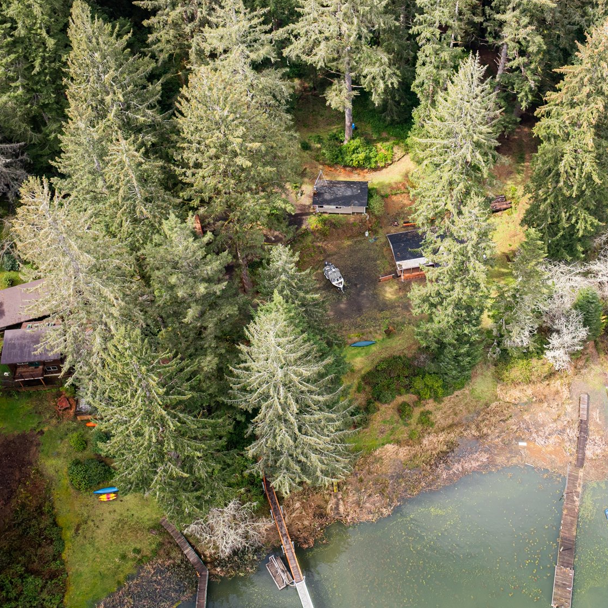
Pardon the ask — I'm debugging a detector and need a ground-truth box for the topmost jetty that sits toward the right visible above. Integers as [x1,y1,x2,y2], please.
[557,394,587,566]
